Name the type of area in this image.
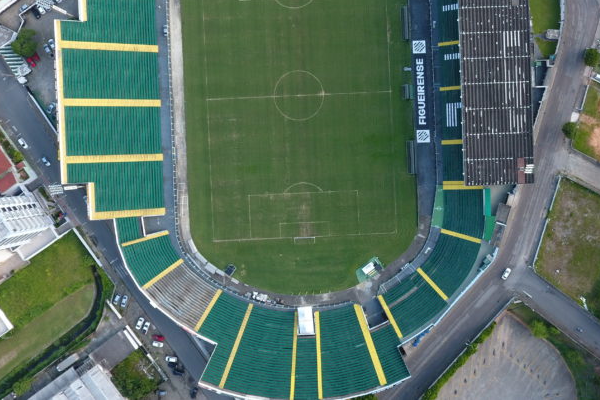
sports ground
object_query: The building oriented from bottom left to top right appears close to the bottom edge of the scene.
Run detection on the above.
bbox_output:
[31,364,82,400]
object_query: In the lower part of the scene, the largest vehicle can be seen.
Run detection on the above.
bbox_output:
[57,350,84,371]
